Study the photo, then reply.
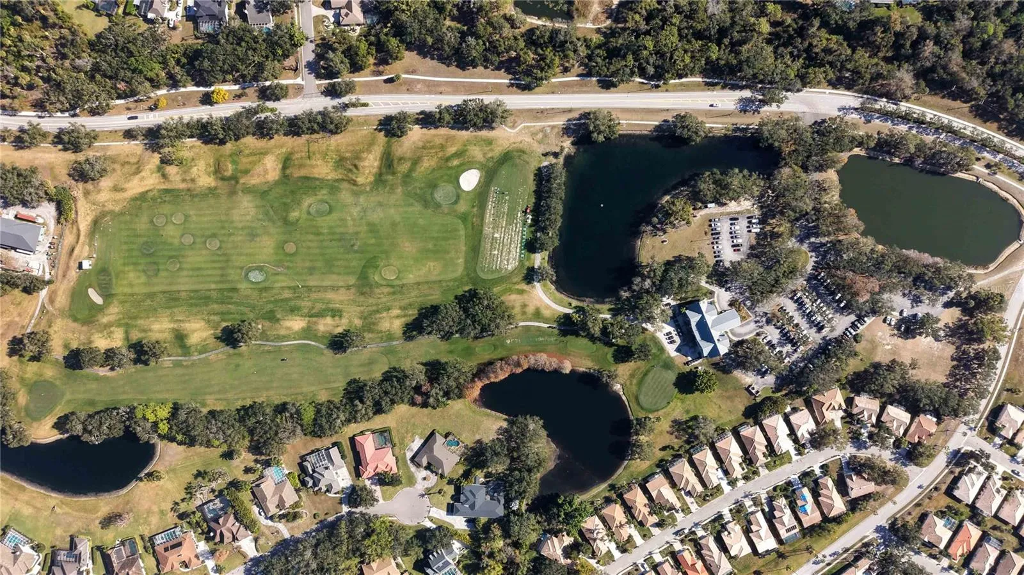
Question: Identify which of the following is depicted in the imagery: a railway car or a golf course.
golf course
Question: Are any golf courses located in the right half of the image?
No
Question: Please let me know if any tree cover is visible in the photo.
Yes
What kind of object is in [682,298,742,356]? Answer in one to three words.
building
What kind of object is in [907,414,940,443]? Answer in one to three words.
house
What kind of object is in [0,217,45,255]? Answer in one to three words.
building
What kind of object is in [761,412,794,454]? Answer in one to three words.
house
